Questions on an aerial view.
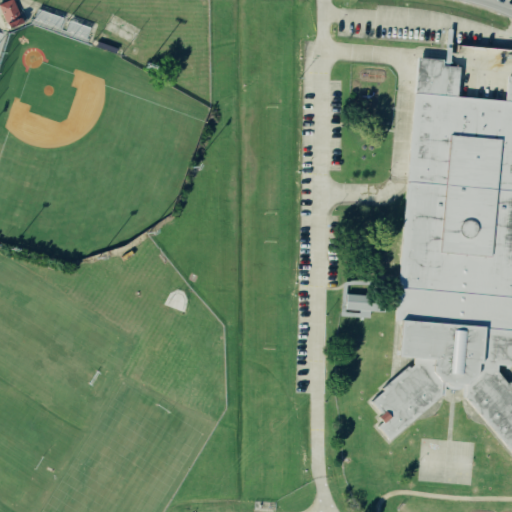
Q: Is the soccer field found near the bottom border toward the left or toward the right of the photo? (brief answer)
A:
left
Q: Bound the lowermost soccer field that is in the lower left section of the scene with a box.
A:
[44,384,202,512]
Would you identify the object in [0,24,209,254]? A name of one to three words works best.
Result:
baseball field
